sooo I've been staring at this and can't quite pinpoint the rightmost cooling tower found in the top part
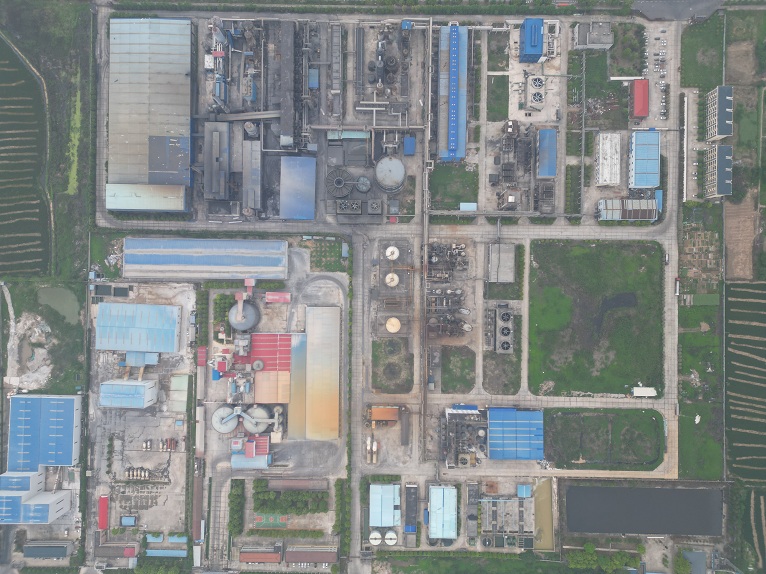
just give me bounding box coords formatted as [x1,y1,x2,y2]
[525,76,545,109]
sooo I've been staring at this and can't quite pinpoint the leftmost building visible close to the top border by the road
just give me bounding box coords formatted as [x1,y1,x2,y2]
[109,17,194,189]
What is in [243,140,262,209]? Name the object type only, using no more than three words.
shed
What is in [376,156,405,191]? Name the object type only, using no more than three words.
storage tank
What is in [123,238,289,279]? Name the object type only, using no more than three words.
building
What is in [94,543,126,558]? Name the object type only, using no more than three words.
house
